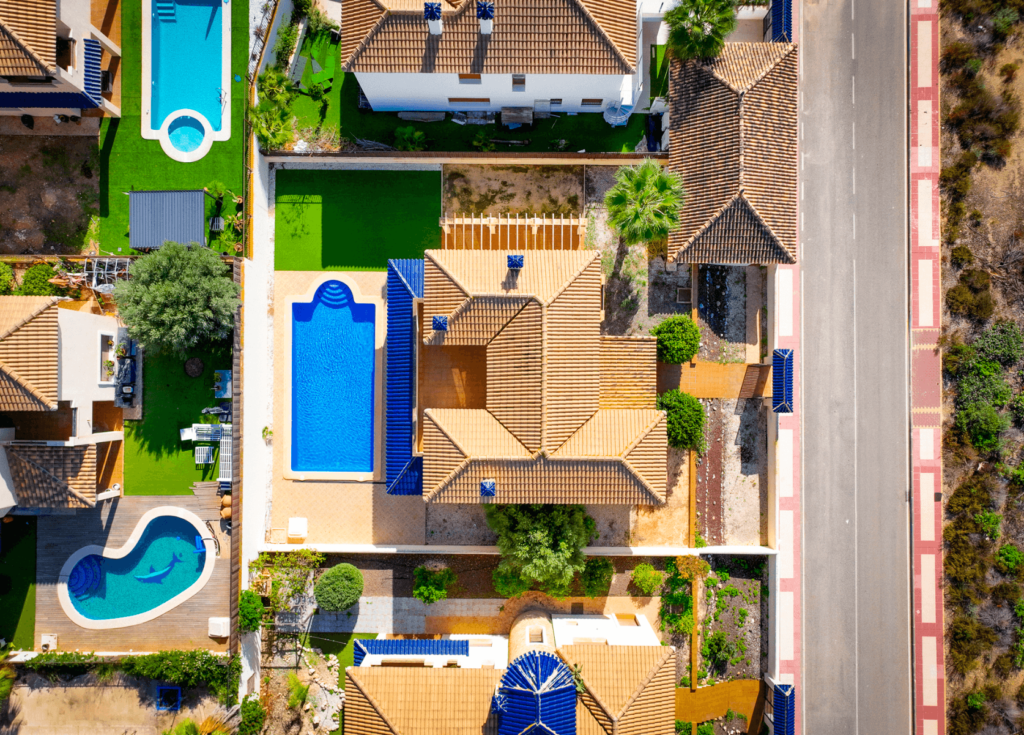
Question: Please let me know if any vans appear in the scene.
No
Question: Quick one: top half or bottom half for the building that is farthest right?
top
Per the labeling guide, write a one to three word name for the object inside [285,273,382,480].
swimming pool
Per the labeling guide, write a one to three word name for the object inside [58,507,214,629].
swimming pool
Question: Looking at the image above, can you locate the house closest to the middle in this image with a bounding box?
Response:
[385,247,668,506]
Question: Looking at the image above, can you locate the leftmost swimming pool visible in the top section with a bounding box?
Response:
[142,0,230,165]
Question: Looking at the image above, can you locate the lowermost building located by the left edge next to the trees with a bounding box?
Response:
[0,295,125,520]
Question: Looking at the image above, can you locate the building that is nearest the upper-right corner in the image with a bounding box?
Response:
[667,41,800,266]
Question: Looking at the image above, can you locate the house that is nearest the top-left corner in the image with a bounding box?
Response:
[0,0,121,117]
